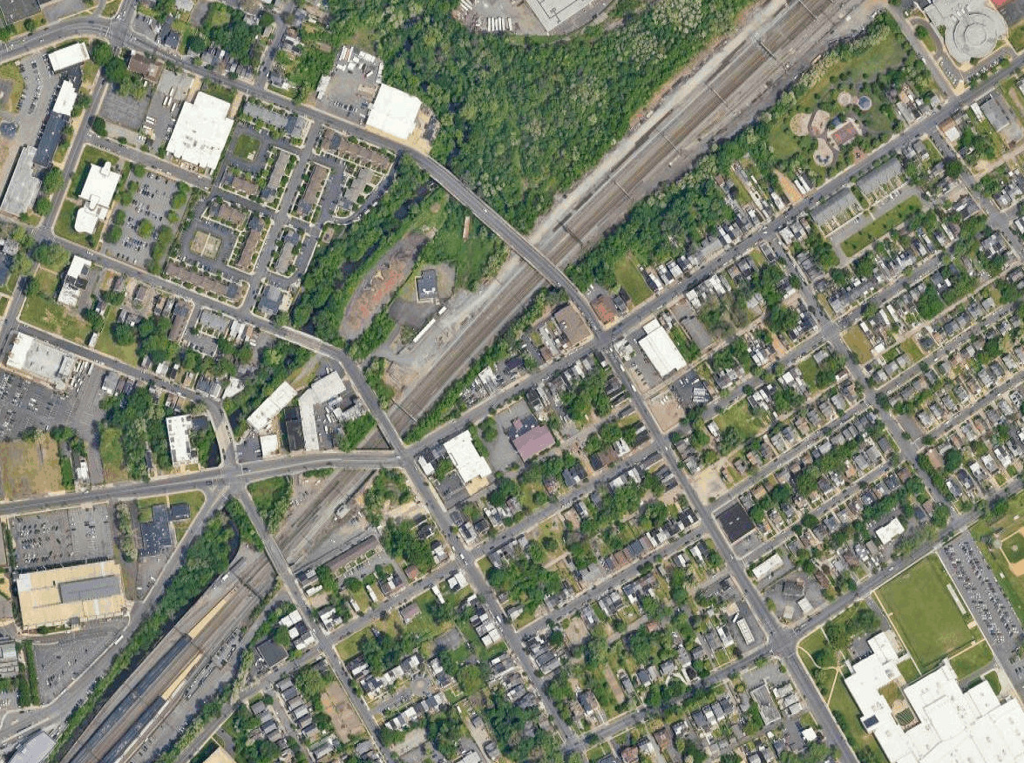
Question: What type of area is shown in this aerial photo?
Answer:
residential area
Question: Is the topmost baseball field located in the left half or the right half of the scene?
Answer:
right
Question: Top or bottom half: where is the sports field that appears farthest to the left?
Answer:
bottom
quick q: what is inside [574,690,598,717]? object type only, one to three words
house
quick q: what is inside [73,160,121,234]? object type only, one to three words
building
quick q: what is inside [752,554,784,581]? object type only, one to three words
building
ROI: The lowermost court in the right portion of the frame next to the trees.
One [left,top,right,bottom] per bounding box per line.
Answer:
[828,118,862,149]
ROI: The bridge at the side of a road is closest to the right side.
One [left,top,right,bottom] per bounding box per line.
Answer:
[420,157,578,297]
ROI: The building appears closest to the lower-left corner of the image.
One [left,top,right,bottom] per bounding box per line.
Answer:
[9,732,57,763]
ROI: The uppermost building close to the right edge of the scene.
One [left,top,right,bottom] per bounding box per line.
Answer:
[925,0,1009,66]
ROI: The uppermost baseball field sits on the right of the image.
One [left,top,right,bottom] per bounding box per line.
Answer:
[972,505,1024,586]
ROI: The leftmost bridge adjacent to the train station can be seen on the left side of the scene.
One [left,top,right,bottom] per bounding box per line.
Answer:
[250,515,314,614]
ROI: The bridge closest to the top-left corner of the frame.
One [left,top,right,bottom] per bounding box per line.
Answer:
[276,324,321,353]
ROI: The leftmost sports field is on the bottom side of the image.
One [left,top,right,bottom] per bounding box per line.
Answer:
[875,555,976,669]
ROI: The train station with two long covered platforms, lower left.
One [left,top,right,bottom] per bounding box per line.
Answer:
[66,579,257,763]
